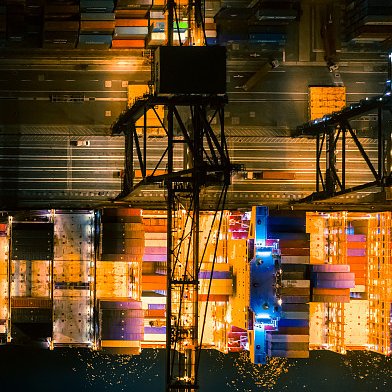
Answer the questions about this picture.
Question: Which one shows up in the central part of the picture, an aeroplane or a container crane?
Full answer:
It is a container crane that can be seen in the central part of the picture.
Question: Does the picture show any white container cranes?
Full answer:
No, there appears to be no white container crane in this shot.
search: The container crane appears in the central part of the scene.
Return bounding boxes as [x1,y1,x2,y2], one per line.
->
[107,0,242,392]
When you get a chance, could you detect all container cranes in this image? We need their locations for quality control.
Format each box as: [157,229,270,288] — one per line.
[294,56,392,201]
[107,0,242,392]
